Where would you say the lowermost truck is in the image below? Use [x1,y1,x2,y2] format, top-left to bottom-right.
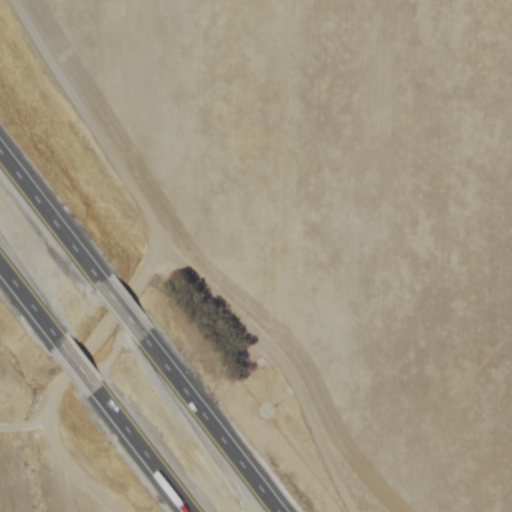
[154,472,189,512]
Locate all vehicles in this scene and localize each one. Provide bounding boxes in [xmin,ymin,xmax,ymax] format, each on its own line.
[154,472,189,512]
[188,403,198,414]
[108,401,118,412]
